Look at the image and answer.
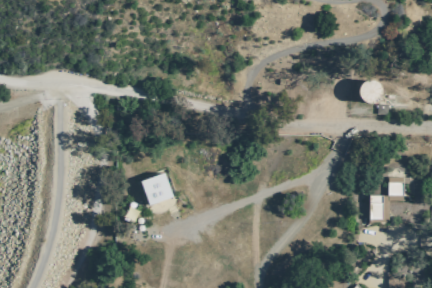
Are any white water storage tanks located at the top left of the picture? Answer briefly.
No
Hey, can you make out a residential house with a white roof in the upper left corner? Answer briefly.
No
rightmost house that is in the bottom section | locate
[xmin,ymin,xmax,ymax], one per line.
[370,178,406,221]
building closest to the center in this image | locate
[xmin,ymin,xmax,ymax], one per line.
[142,174,174,206]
